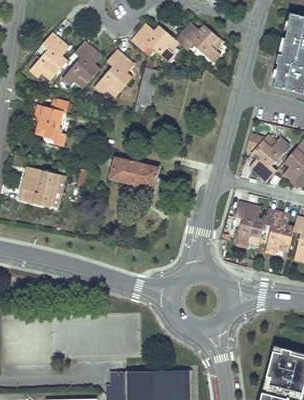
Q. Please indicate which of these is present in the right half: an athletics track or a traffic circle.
traffic circle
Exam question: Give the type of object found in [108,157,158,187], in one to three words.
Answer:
house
